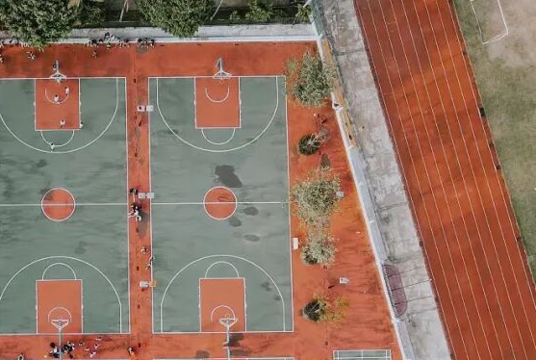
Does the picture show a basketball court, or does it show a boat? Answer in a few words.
basketball court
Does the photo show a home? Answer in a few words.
No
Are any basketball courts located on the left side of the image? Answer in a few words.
Yes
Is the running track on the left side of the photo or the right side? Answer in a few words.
right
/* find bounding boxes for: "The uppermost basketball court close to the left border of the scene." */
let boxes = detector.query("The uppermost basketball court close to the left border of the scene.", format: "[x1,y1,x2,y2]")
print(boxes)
[0,77,130,335]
